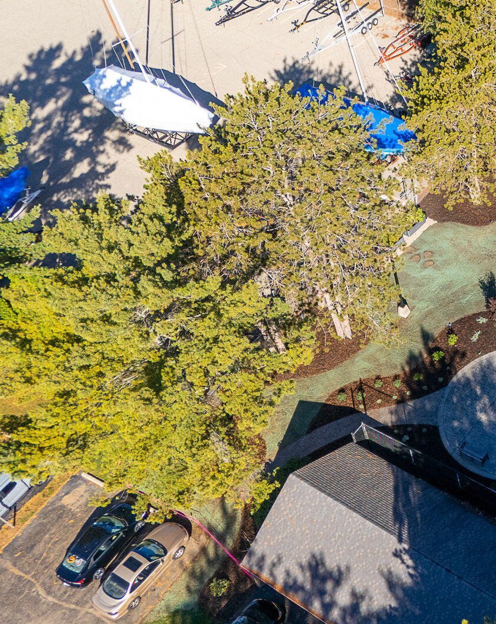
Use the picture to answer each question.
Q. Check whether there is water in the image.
No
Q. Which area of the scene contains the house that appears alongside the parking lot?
bottom right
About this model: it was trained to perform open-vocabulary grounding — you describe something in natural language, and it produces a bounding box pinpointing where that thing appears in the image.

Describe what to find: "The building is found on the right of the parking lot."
[242,434,496,624]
